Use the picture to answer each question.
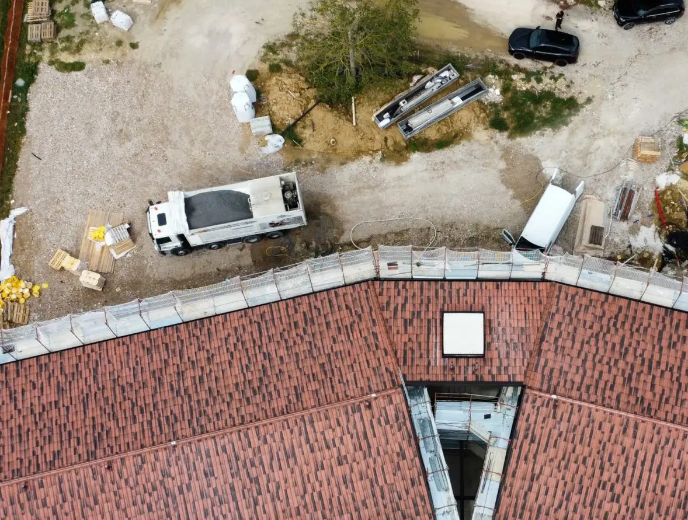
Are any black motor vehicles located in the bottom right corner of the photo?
No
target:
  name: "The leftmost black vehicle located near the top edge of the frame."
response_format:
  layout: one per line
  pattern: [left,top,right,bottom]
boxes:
[506,24,582,67]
